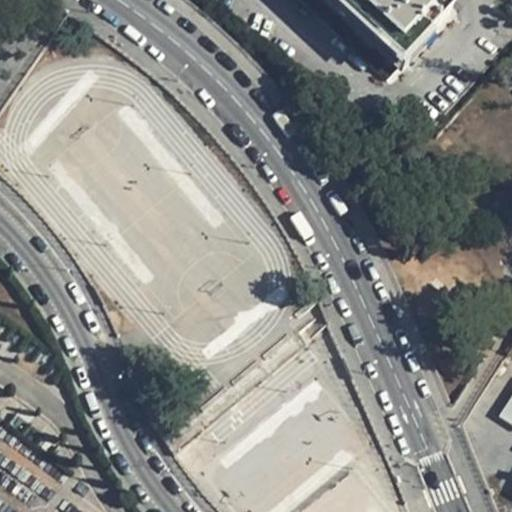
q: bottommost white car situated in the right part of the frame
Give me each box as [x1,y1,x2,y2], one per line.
[395,436,410,456]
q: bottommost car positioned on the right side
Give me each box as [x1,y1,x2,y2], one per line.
[424,470,438,488]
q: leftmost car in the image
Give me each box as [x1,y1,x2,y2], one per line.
[5,251,25,273]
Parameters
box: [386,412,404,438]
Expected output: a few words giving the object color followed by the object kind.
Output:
white vehicle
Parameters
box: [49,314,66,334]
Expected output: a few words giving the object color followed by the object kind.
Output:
white car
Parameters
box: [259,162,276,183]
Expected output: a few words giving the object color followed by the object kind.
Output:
white car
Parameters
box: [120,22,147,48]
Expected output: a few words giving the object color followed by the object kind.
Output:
white vehicle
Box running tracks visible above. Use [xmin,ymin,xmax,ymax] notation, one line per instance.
[2,63,291,368]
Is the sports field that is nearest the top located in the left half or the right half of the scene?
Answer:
left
